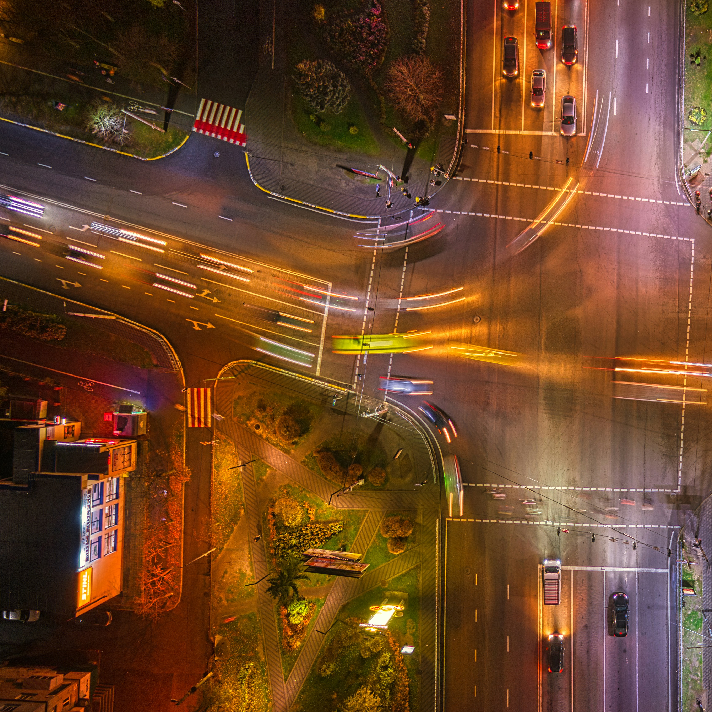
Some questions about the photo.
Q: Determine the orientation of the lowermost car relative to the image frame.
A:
from top to bottom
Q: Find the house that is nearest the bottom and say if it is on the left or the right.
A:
left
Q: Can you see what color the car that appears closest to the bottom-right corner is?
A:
black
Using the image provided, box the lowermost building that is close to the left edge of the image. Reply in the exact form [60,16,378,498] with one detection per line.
[0,663,85,712]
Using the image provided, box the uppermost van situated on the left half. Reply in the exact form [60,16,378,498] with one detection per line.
[0,192,51,221]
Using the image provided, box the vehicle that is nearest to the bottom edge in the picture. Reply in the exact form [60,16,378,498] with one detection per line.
[546,631,566,673]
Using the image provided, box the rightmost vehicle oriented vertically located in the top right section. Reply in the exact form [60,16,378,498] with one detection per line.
[586,106,610,153]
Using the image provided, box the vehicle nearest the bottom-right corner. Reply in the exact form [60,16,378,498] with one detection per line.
[611,590,631,638]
